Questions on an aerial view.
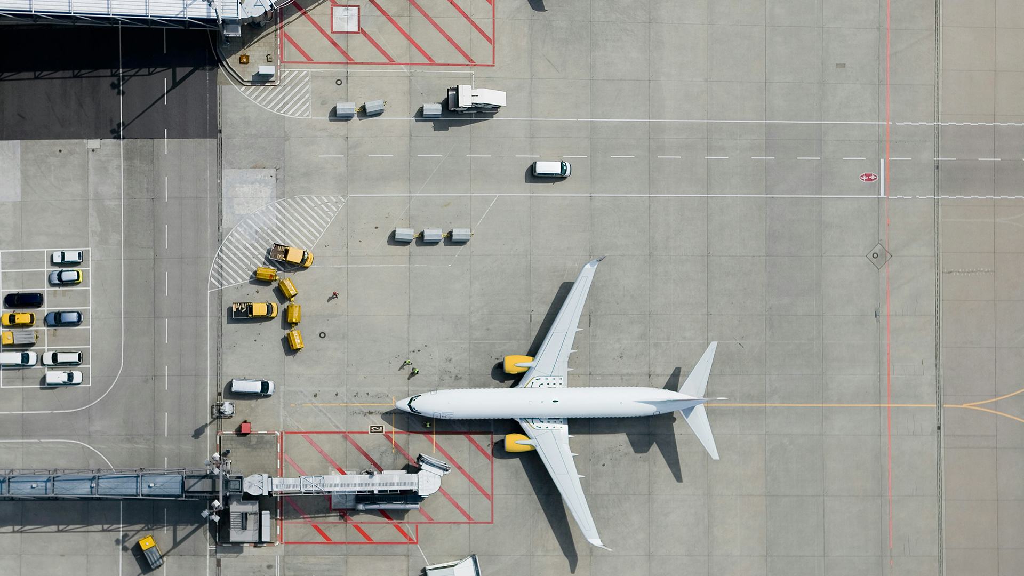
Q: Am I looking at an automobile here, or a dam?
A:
automobile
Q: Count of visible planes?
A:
1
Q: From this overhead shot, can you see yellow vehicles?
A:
Yes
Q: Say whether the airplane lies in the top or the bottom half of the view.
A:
bottom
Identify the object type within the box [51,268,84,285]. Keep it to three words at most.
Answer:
car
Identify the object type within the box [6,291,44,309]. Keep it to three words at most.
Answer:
vehicle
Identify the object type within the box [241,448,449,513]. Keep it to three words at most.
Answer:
jet bridge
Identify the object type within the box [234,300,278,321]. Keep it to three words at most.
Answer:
truck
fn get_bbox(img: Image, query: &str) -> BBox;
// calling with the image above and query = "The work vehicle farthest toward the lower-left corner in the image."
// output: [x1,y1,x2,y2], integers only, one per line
[139,536,164,569]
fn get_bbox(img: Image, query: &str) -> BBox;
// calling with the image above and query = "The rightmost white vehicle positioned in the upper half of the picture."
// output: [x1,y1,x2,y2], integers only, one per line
[533,160,572,179]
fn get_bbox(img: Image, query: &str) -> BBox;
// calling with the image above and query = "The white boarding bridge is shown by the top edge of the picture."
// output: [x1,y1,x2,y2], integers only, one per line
[236,0,296,27]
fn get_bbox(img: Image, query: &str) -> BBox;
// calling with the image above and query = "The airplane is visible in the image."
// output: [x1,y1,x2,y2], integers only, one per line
[396,254,726,548]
